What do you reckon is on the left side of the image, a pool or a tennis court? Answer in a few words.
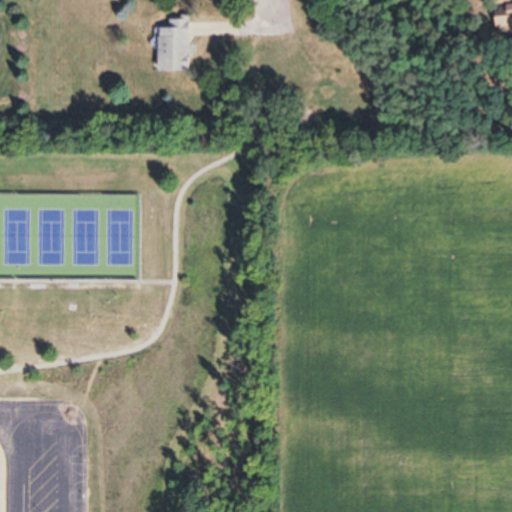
tennis court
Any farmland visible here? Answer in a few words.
Yes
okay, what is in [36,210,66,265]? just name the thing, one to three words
tennis court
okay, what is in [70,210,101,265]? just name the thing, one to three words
tennis court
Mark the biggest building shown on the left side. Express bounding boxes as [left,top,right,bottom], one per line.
[155,13,190,70]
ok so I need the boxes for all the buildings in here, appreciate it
[155,13,190,70]
[496,2,512,30]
